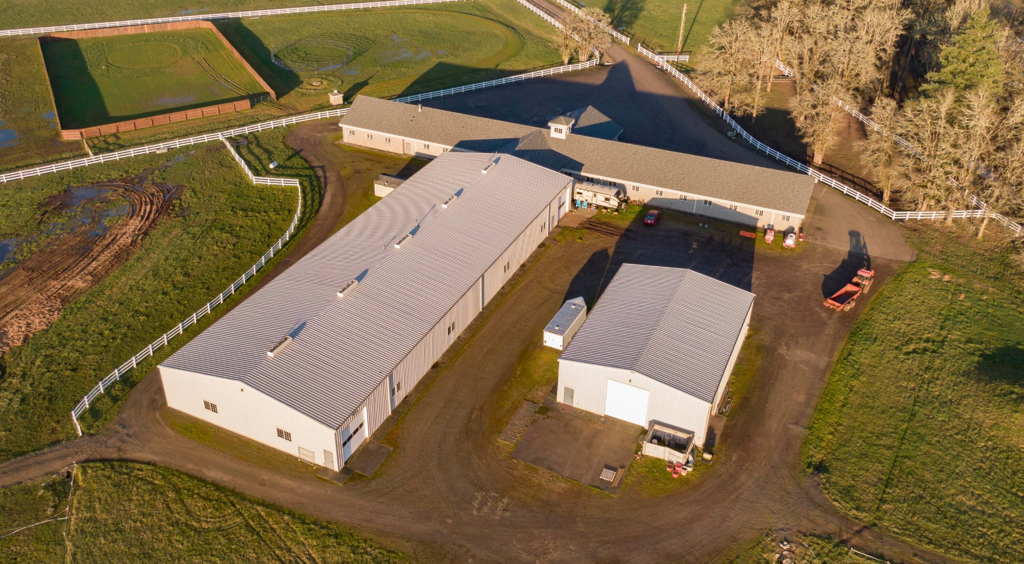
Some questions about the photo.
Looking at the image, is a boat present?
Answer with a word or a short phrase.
No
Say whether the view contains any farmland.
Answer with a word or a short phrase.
Yes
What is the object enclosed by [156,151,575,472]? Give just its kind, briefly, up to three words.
barn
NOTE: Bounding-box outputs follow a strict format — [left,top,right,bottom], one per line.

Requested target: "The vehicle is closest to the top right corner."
[855,266,882,294]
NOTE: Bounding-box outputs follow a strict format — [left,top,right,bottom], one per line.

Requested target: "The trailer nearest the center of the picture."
[545,295,599,345]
